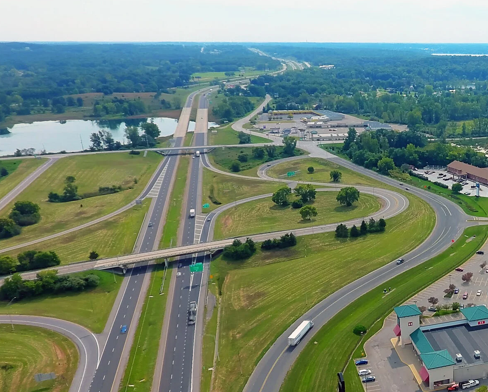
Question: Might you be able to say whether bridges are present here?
Yes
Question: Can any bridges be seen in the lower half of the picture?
Yes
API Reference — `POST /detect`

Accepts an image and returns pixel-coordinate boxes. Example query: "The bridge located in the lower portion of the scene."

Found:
[94,235,238,277]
